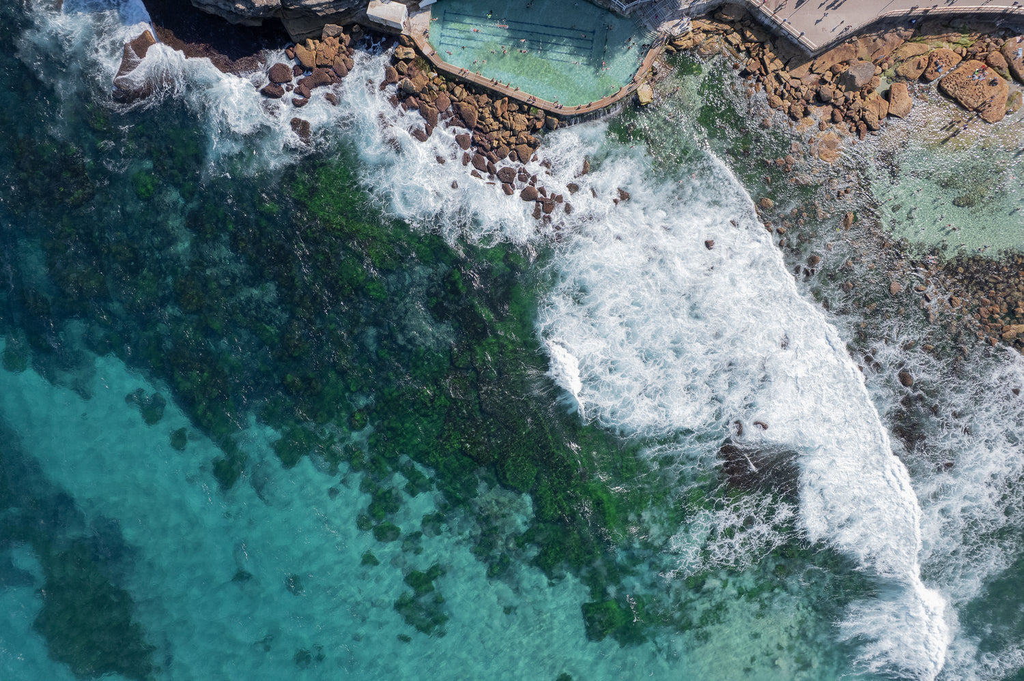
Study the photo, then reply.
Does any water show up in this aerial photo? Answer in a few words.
Yes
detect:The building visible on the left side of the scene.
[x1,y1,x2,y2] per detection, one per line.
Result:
[367,0,410,34]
